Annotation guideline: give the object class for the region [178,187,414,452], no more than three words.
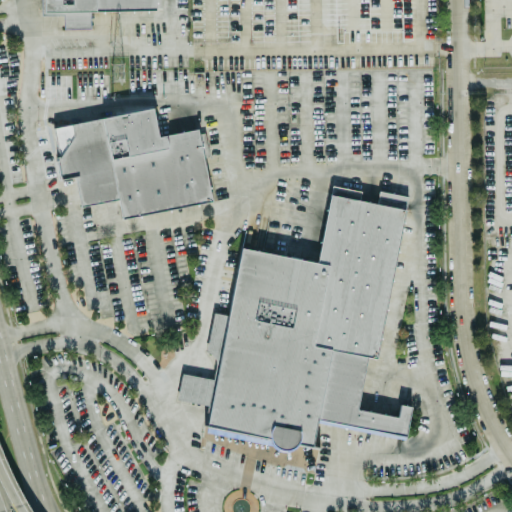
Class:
building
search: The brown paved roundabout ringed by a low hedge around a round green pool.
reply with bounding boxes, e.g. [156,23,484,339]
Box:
[223,490,260,512]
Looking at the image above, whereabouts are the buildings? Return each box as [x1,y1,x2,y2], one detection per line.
[57,108,212,220]
[178,187,414,452]
[46,0,157,30]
